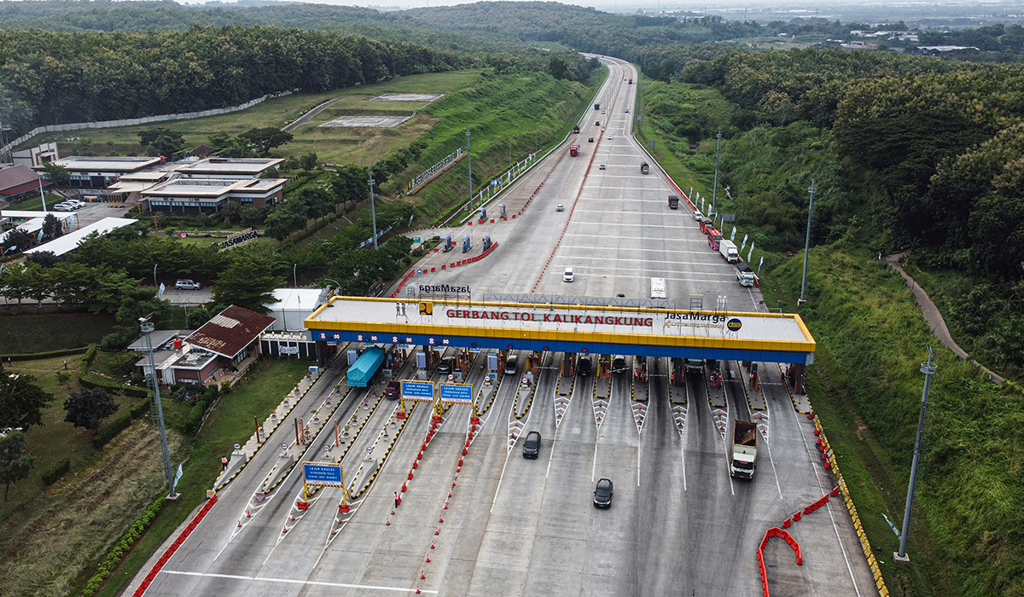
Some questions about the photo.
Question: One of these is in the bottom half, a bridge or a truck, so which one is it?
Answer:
truck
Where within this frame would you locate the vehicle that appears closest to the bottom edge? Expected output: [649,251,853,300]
[595,476,616,507]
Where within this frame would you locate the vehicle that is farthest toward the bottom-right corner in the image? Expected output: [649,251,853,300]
[725,425,757,478]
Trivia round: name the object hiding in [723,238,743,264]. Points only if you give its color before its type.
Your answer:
white vehicle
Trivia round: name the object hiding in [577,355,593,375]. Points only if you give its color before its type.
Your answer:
black car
